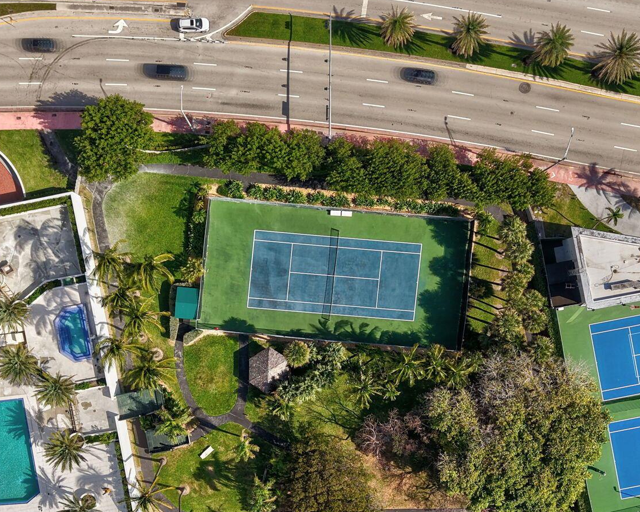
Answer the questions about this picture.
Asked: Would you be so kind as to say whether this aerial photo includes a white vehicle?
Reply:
Yes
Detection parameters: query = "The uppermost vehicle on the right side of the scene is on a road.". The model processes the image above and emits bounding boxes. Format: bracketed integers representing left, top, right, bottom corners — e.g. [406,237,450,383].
[401,68,435,86]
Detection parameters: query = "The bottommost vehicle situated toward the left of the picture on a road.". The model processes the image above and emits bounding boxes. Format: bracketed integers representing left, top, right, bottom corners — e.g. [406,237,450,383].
[147,63,185,81]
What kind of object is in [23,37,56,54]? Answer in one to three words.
car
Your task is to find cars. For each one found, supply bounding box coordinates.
[147,63,185,81]
[177,17,211,34]
[401,68,435,86]
[23,37,56,54]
